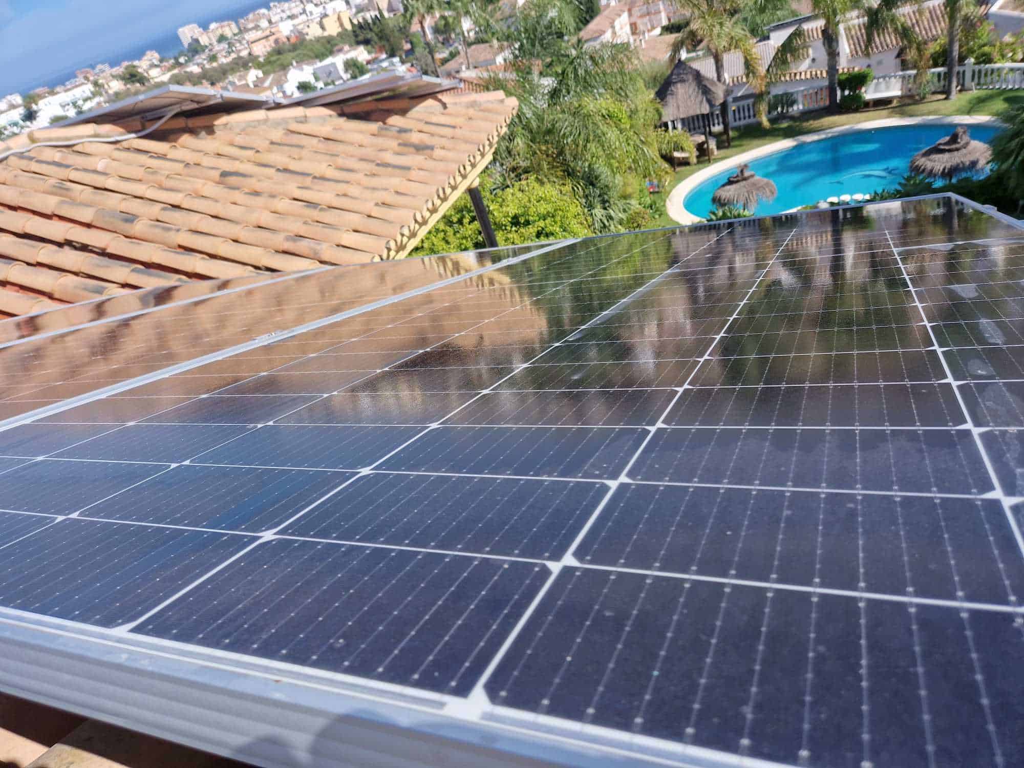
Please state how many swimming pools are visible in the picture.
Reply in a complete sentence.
In total, 1 swimming pool can be seen.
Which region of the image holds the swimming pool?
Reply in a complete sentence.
The swimming pool sits in the top right section of the image.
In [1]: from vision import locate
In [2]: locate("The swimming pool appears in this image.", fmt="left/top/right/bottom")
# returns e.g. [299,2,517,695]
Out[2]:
[666,117,1003,225]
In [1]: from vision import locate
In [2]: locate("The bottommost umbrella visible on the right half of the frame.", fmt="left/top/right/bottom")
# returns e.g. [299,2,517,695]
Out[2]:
[709,164,779,219]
